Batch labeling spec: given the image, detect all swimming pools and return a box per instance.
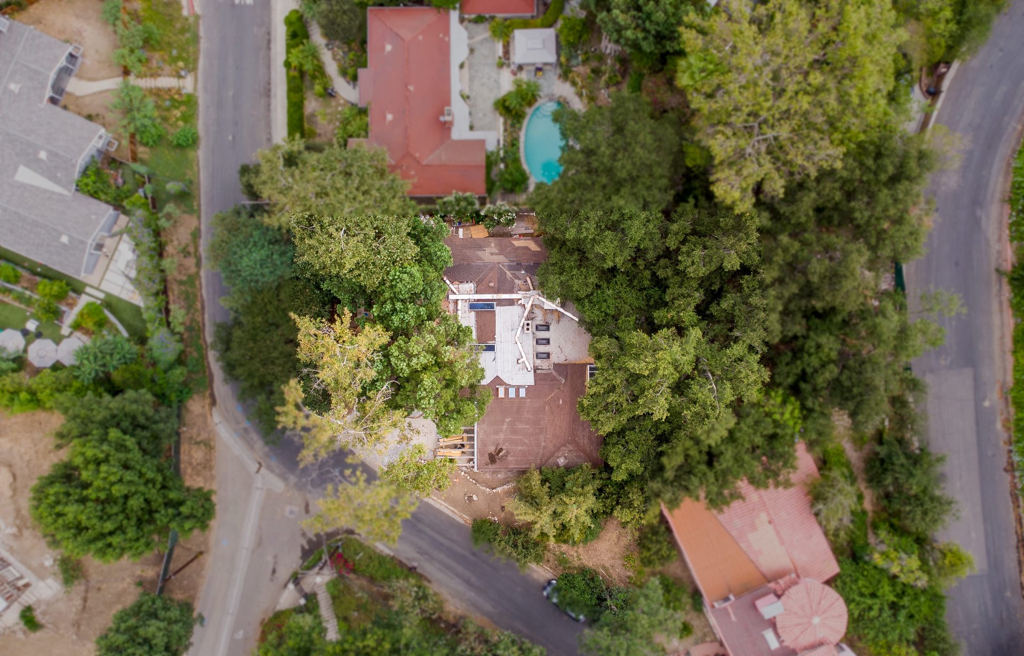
[520,96,578,188]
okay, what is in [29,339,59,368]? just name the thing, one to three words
umbrella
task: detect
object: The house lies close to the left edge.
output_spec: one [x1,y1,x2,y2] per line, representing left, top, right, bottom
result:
[0,15,127,278]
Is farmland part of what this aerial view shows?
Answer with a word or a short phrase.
No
